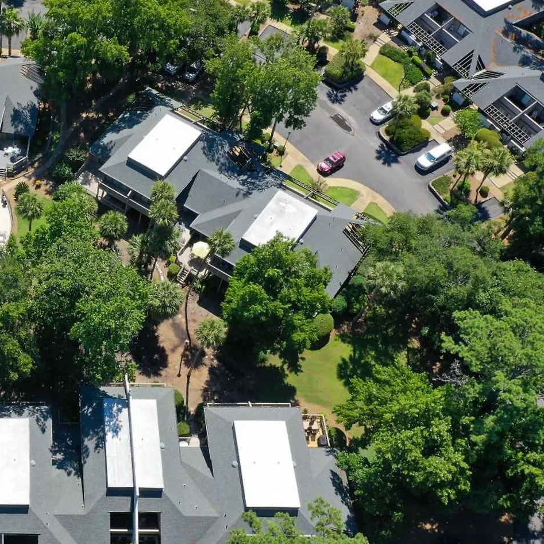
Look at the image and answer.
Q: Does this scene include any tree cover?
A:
Yes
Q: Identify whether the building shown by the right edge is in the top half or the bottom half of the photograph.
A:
top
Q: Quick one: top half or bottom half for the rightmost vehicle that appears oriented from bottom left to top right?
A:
top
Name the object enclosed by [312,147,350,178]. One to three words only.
car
